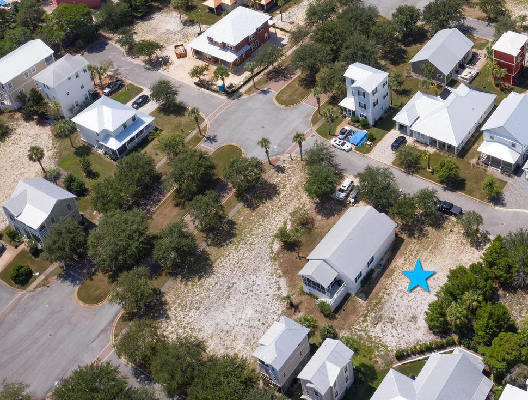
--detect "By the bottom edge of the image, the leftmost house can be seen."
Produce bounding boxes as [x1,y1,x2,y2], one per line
[251,317,311,395]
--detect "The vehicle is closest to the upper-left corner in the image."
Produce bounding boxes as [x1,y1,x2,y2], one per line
[100,77,128,95]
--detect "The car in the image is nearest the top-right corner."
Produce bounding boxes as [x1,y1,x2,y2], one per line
[390,132,410,151]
